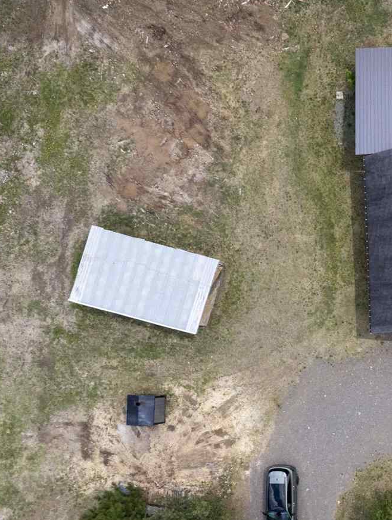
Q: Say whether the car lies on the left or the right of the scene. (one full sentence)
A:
The car appears in the right half of the scene.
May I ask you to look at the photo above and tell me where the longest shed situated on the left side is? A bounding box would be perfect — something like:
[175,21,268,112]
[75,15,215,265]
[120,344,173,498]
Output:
[69,227,231,334]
